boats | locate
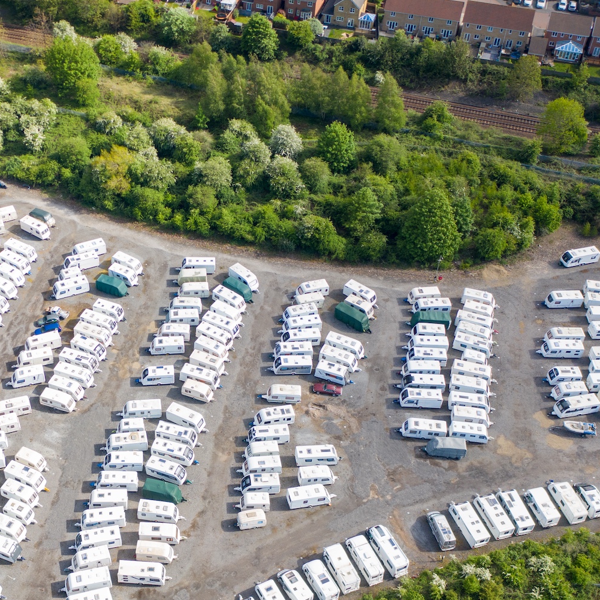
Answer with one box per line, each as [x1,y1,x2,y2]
[561,418,600,434]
